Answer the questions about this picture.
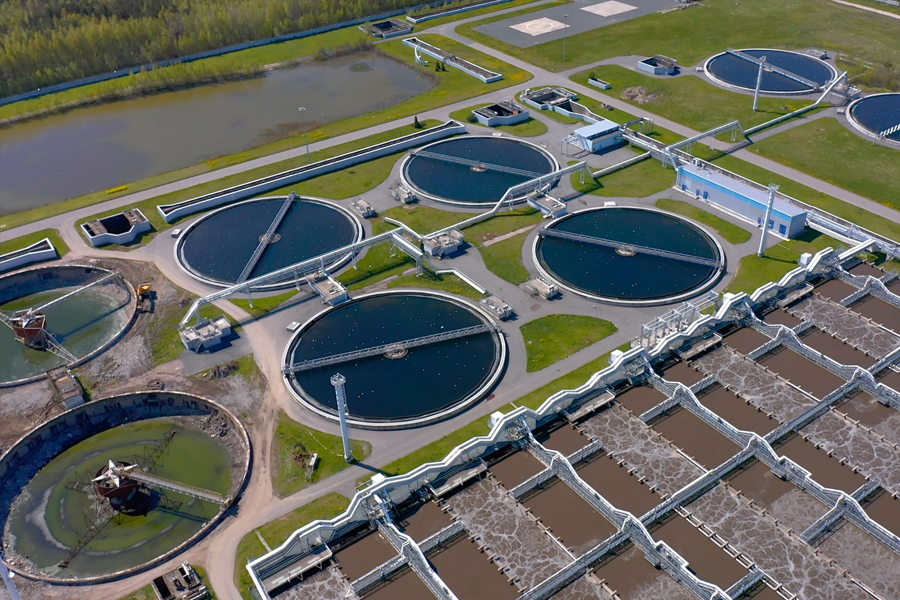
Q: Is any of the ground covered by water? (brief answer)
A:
Yes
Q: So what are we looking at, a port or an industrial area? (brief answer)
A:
industrial area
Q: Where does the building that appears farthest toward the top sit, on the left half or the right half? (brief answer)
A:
right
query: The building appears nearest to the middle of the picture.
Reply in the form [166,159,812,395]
[420,223,466,258]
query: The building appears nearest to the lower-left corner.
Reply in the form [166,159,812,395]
[177,309,231,352]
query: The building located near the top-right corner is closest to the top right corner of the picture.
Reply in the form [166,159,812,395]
[818,82,867,110]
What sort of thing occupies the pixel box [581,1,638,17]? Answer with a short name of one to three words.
helipad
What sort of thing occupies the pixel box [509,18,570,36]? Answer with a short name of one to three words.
helipad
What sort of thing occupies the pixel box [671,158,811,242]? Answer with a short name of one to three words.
building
